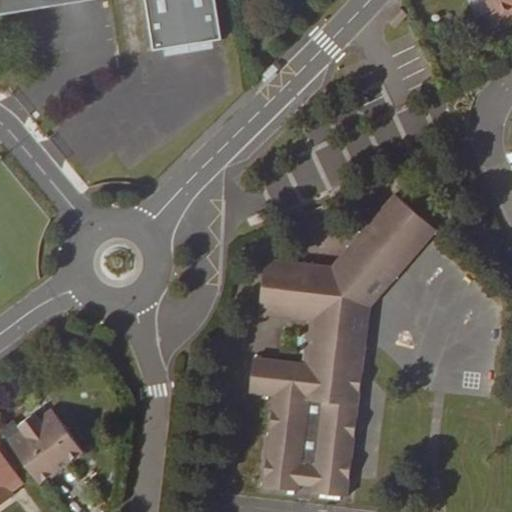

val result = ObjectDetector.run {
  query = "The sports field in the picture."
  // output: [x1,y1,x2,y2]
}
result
[0,160,49,306]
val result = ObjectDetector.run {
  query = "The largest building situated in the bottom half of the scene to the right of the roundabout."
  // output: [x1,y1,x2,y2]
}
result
[248,193,434,501]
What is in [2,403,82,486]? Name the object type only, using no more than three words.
house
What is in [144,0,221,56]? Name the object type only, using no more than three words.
building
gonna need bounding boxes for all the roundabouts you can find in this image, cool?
[66,206,172,316]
